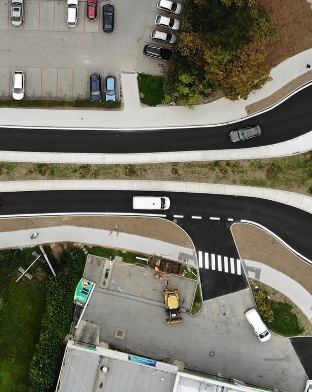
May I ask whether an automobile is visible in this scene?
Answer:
Yes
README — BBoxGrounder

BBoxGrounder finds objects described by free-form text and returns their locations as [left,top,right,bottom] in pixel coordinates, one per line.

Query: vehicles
[103,75,118,102]
[163,272,183,326]
[64,0,80,27]
[229,126,261,143]
[244,306,270,341]
[155,14,180,30]
[151,28,177,44]
[143,44,172,60]
[101,4,116,32]
[156,0,182,14]
[11,71,25,101]
[304,379,312,392]
[133,196,169,211]
[86,0,99,21]
[10,0,25,26]
[89,73,103,102]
